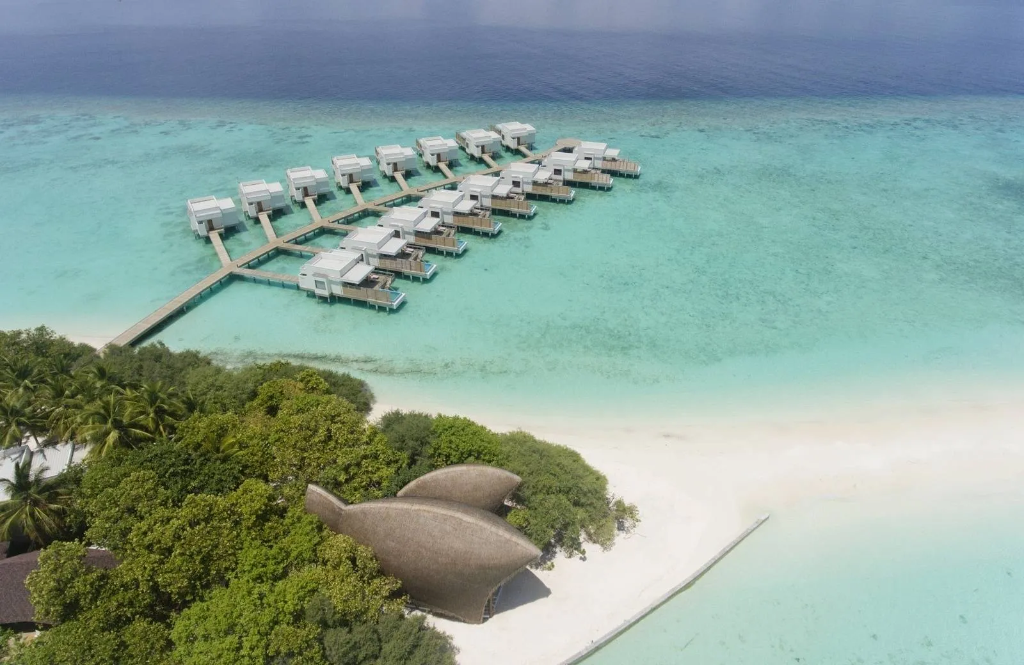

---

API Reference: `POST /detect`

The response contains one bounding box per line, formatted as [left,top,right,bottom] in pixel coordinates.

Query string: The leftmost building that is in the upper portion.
[185,197,240,246]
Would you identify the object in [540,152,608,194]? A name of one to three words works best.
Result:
house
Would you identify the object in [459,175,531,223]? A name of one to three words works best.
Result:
house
